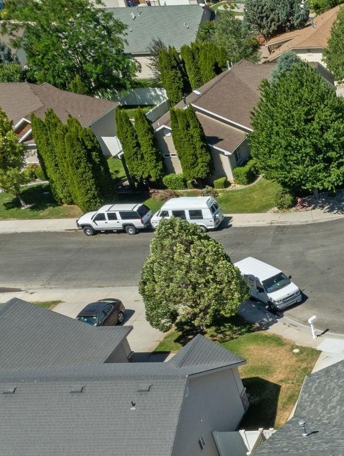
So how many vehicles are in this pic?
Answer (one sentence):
In total, 4 vehicles can be seen.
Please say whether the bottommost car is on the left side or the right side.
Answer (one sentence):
The bottommost car is on the left side of the image.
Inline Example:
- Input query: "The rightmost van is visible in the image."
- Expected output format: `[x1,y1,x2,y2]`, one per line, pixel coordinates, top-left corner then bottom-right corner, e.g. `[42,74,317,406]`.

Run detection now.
[233,255,301,309]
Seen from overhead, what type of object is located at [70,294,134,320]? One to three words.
car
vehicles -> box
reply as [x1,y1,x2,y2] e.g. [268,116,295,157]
[70,294,134,320]
[150,196,224,232]
[233,255,301,309]
[71,203,152,236]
